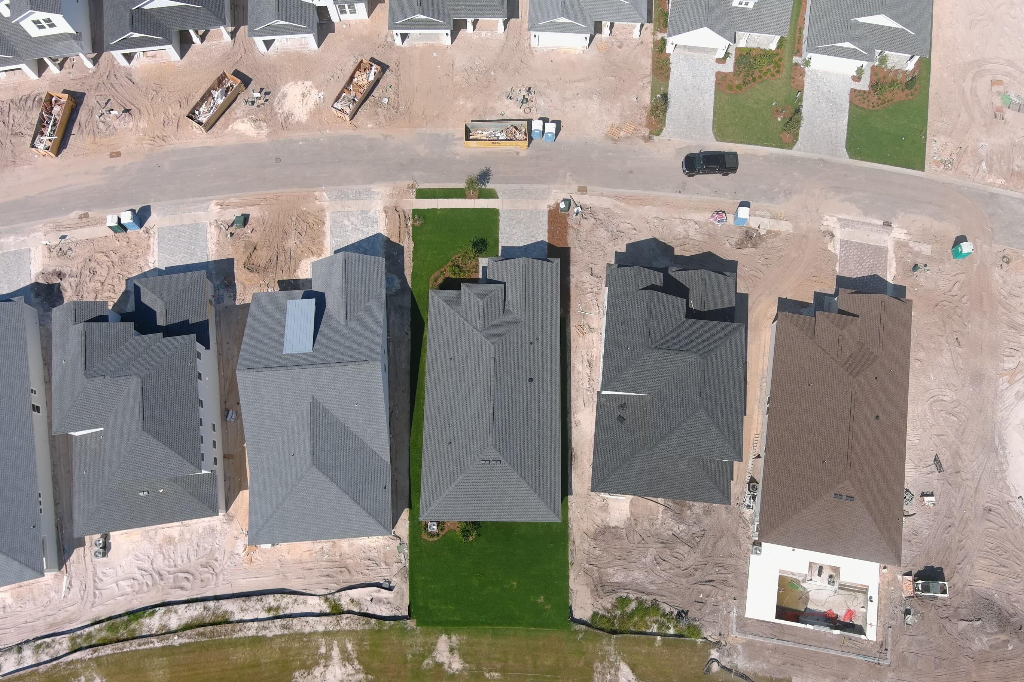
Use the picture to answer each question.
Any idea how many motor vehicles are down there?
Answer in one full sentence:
The count of motor vehicles comes to 2.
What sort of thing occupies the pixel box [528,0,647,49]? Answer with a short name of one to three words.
house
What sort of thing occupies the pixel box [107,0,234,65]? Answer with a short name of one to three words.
house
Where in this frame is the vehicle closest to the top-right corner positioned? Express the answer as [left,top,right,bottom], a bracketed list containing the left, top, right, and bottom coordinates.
[680,152,739,178]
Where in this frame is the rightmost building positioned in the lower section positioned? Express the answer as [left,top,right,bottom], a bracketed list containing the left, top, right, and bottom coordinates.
[752,287,914,568]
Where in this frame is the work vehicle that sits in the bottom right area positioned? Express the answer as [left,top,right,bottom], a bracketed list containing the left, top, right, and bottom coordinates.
[903,577,956,603]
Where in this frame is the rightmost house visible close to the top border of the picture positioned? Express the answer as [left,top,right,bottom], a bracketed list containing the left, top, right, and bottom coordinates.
[801,0,932,75]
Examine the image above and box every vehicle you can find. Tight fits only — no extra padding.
[903,577,956,603]
[680,152,739,178]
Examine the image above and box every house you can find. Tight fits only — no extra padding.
[107,0,234,65]
[666,0,793,57]
[752,287,914,568]
[590,259,745,506]
[419,258,562,523]
[248,0,369,53]
[0,0,94,84]
[53,270,225,539]
[0,296,60,587]
[528,0,647,49]
[388,0,507,45]
[236,251,393,546]
[801,0,932,75]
